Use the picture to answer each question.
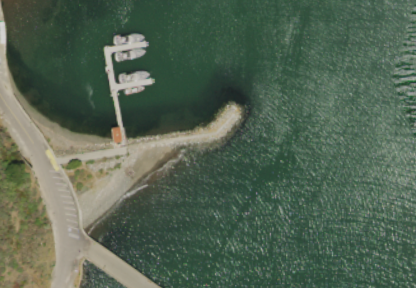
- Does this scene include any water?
Yes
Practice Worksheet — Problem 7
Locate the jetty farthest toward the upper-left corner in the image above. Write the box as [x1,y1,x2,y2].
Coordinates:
[104,42,155,146]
